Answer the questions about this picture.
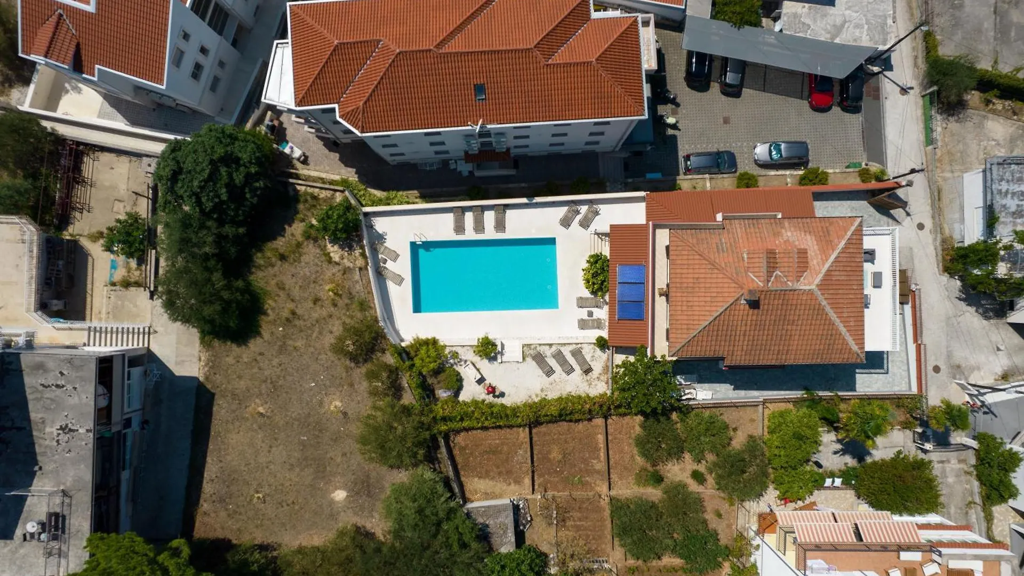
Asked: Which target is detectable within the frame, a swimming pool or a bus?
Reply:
swimming pool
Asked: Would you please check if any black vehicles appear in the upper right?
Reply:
Yes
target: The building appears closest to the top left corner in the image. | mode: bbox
[14,0,245,110]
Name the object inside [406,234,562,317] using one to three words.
swimming pool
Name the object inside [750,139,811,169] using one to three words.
car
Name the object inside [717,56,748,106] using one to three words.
car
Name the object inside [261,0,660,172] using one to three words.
building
